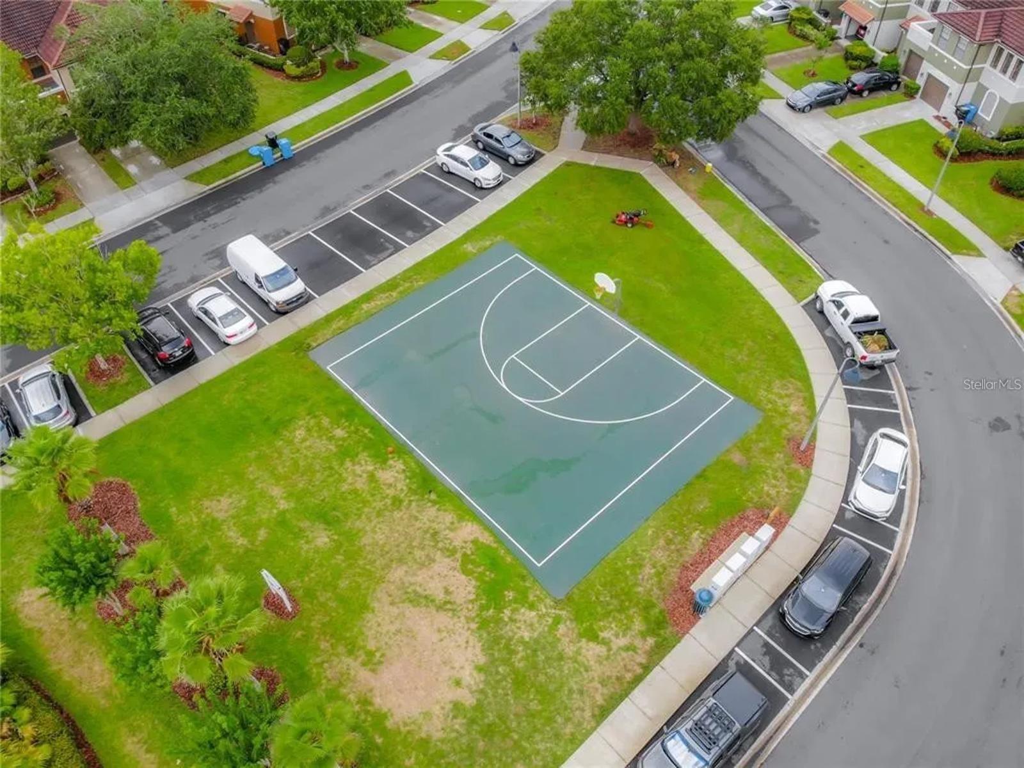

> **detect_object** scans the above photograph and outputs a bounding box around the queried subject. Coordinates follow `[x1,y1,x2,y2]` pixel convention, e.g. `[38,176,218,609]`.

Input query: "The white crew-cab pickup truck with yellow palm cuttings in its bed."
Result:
[814,283,908,372]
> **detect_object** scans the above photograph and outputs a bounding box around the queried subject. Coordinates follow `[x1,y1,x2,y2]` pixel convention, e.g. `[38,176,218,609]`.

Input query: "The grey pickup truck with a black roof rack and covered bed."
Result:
[633,664,774,768]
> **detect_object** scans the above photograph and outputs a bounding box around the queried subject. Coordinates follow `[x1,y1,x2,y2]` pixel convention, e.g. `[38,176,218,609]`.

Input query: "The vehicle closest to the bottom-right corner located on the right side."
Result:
[781,538,875,645]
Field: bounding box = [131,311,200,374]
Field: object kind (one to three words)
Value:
car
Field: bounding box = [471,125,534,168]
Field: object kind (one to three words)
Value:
car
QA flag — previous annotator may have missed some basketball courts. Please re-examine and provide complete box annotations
[308,241,763,598]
